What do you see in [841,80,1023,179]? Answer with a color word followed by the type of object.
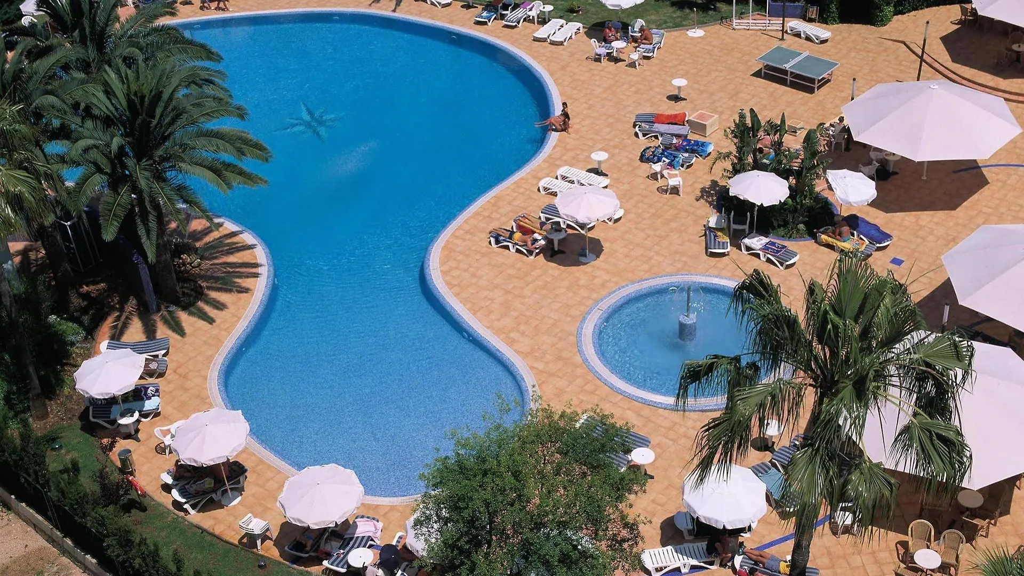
white umbrella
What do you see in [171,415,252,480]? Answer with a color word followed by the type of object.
white umbrella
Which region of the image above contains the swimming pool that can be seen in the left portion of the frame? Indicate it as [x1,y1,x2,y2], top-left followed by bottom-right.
[45,10,556,497]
